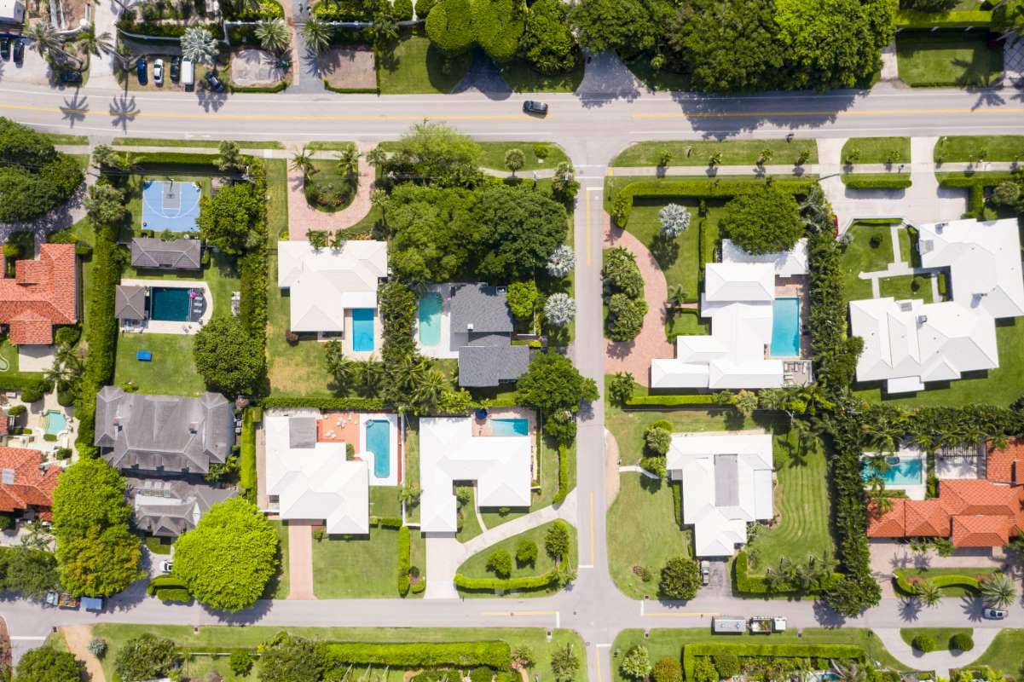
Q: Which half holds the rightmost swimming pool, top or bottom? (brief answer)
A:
bottom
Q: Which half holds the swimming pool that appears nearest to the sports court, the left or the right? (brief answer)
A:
left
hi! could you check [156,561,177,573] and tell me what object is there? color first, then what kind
white vehicle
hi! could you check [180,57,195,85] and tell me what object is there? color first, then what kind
white vehicle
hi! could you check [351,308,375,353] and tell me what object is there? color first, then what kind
blue swimming pool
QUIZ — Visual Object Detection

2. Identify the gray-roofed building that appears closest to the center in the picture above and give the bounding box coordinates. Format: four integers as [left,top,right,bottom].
[439,283,529,386]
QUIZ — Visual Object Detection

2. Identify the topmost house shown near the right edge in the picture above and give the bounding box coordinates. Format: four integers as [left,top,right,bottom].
[845,217,1024,393]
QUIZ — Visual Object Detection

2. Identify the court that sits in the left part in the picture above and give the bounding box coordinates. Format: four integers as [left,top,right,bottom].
[142,181,201,232]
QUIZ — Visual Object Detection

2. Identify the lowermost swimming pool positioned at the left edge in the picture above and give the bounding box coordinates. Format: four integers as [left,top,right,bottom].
[40,408,68,436]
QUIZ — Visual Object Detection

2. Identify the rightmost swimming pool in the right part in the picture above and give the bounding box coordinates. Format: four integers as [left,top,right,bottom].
[861,455,923,486]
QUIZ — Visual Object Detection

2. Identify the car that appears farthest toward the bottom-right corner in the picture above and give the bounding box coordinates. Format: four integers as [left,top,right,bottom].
[981,607,1005,619]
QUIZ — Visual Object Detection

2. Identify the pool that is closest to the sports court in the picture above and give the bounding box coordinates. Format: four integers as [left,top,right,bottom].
[151,286,191,322]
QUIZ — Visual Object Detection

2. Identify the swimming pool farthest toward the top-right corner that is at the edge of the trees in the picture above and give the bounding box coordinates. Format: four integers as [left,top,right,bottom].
[769,296,802,358]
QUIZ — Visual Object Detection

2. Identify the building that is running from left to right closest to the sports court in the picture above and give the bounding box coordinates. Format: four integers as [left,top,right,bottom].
[131,238,205,269]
